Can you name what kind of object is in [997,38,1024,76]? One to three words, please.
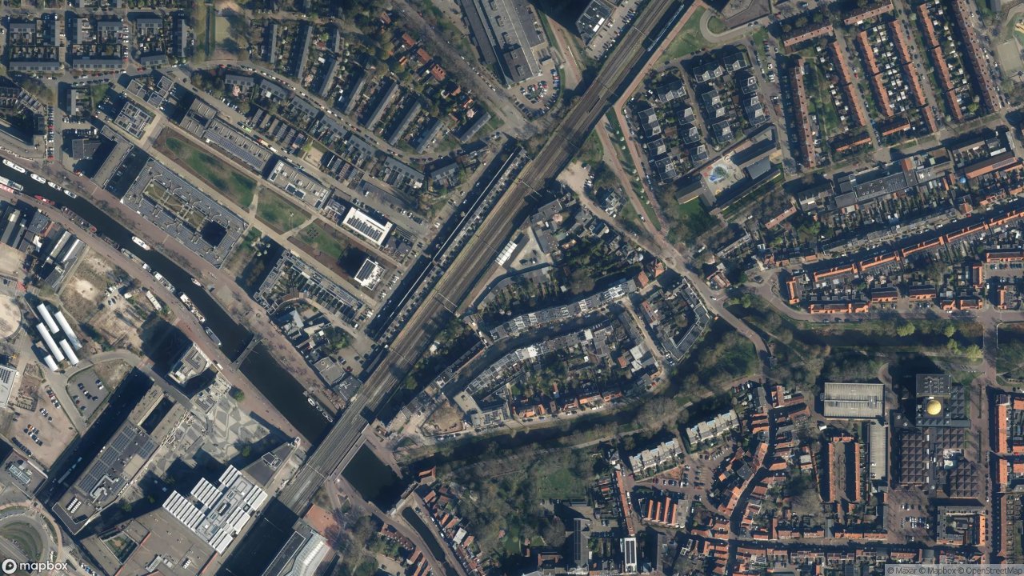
sports court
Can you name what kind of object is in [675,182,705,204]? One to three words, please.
building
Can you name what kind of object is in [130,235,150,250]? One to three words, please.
boat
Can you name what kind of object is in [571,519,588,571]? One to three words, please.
house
